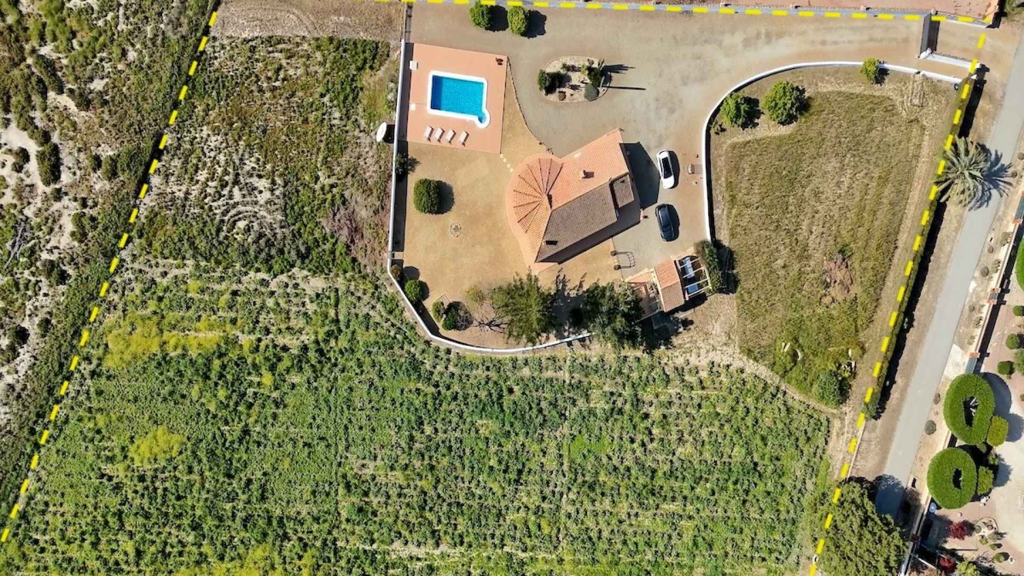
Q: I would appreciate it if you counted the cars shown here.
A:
2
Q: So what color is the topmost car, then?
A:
white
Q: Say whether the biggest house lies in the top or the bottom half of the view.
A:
top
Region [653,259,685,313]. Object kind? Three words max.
building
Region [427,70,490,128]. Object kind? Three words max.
swimming pool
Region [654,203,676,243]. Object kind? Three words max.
car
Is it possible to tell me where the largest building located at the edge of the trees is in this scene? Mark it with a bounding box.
[513,127,635,263]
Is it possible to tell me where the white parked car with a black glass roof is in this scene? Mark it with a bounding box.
[655,150,677,190]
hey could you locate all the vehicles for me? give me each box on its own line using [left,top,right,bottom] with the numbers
[655,150,677,190]
[654,203,676,243]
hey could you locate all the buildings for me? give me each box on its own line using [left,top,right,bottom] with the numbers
[513,127,635,263]
[653,259,685,313]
